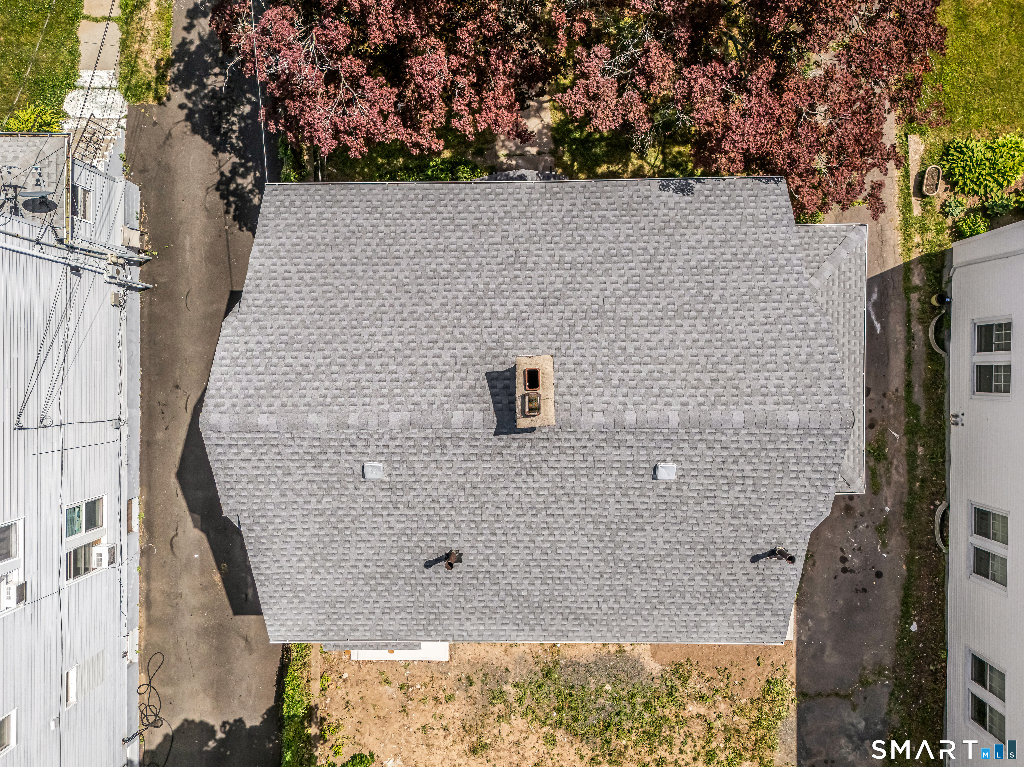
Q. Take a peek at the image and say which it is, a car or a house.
house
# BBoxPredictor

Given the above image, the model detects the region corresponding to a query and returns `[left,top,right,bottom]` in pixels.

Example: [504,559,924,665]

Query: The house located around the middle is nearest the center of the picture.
[200,164,870,661]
